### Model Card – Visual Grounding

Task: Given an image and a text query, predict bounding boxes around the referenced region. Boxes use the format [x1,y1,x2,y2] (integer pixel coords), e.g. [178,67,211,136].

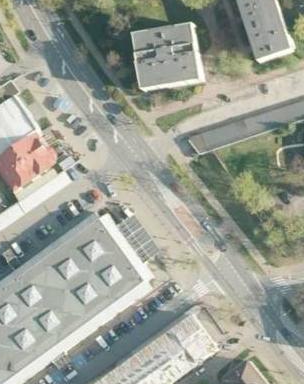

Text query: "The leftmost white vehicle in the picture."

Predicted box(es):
[10,242,24,257]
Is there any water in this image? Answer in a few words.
No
